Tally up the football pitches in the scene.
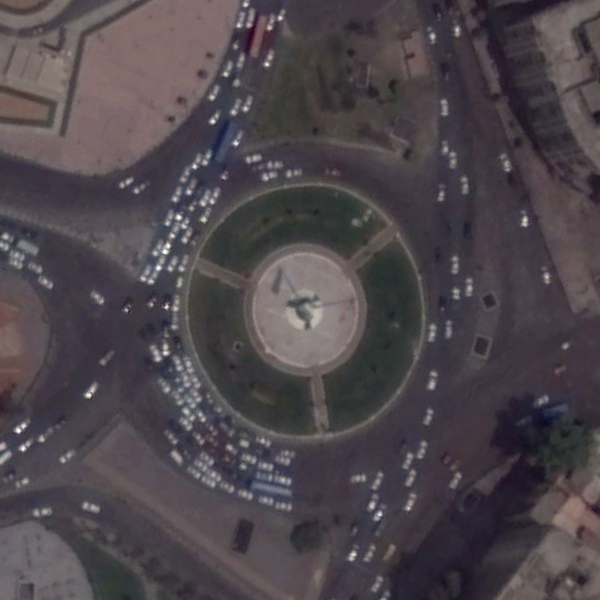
none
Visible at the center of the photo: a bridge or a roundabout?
roundabout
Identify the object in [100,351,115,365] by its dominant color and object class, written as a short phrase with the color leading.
gray car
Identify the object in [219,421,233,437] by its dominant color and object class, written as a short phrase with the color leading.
gray car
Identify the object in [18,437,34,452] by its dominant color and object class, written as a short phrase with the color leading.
white car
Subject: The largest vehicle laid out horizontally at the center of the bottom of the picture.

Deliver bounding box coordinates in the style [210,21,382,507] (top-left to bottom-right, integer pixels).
[247,480,291,497]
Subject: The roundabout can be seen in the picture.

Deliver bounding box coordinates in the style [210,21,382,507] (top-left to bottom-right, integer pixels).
[179,176,430,444]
